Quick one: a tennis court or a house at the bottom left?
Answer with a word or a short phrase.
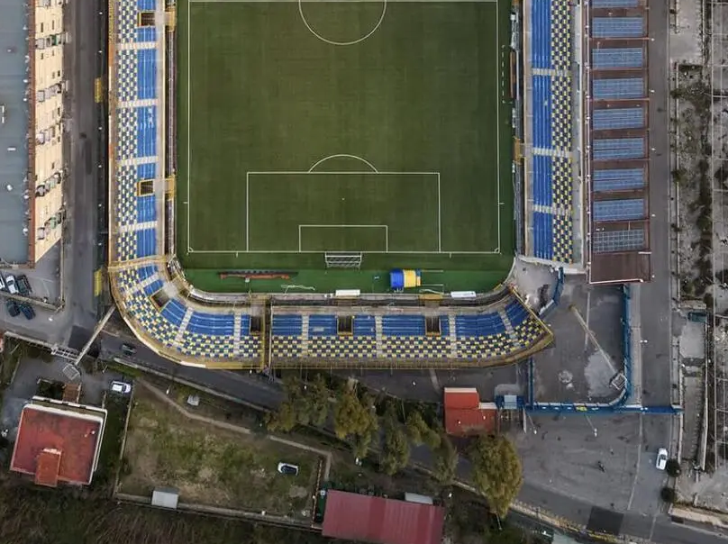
house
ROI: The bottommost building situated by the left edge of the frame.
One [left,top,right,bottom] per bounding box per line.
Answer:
[11,396,109,487]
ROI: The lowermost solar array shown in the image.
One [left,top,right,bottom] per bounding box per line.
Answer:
[594,229,645,252]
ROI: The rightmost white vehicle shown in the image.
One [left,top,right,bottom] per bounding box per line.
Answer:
[657,451,669,472]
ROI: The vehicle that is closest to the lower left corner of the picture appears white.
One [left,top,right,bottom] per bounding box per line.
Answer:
[109,382,130,395]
